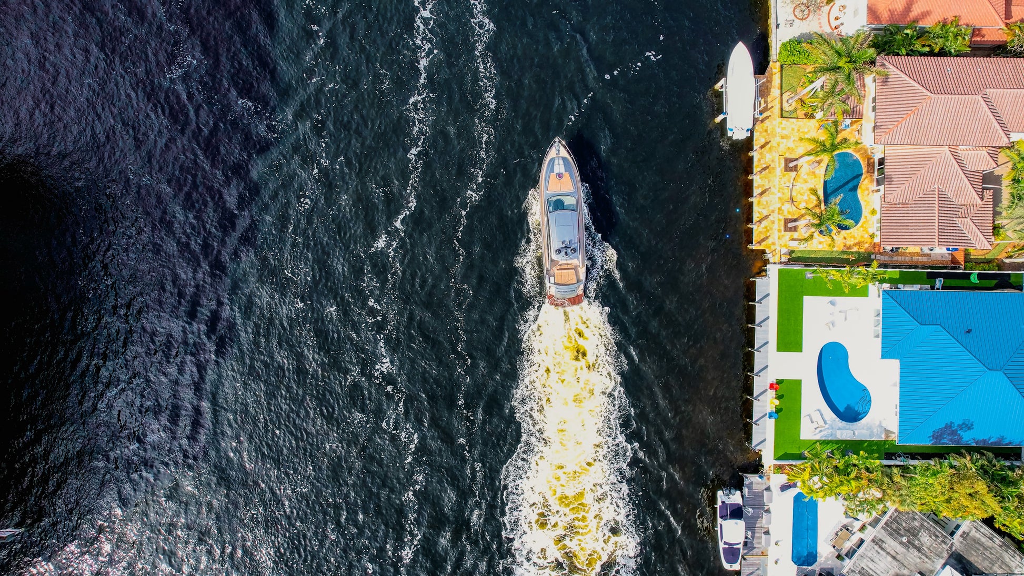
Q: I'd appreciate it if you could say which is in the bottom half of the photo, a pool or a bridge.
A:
pool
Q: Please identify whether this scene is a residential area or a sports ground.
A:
residential area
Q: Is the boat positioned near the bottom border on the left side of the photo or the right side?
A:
right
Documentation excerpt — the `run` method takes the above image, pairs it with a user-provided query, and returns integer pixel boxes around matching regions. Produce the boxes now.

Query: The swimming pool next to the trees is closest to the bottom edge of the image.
[789,489,821,570]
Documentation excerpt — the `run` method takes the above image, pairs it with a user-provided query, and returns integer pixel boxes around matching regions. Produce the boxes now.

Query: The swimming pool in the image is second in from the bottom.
[814,339,874,426]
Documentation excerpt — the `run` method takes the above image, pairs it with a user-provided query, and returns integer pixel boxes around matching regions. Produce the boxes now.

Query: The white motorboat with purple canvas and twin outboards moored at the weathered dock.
[714,485,745,571]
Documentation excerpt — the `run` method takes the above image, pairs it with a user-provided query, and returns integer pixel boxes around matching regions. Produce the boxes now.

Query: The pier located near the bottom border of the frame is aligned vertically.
[741,476,770,576]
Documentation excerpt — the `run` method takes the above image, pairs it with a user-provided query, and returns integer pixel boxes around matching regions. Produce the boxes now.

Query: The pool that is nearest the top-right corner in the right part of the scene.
[817,149,865,238]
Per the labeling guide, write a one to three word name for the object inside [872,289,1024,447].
house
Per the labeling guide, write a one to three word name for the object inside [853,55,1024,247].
house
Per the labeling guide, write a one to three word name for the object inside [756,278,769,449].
pier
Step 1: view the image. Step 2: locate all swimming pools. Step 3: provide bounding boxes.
[814,339,874,426]
[817,149,865,238]
[789,489,821,570]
